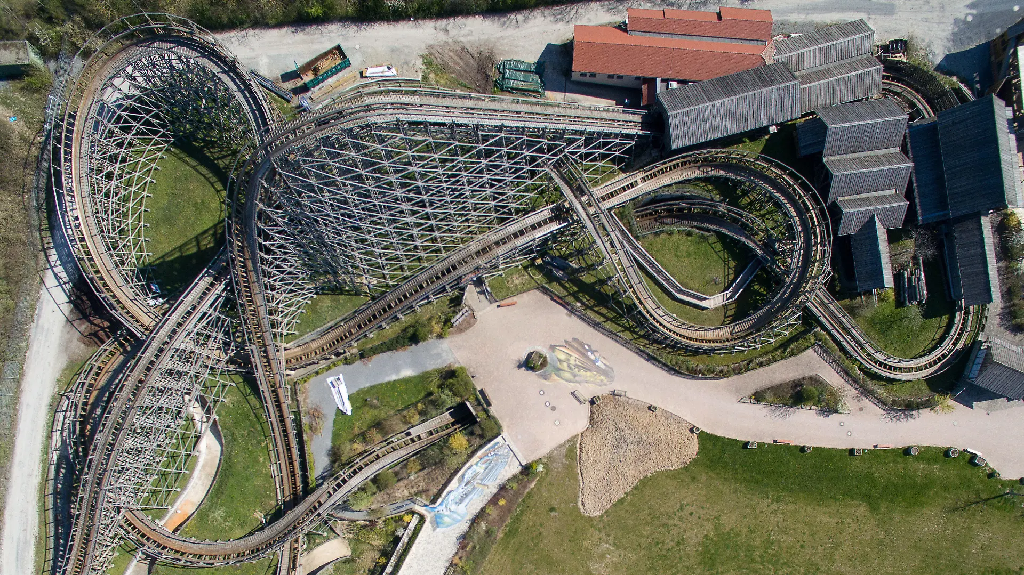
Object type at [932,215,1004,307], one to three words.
barn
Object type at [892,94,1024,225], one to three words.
barn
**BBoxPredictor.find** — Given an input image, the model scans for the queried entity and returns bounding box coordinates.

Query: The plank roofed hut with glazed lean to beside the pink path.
[951,336,1024,408]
